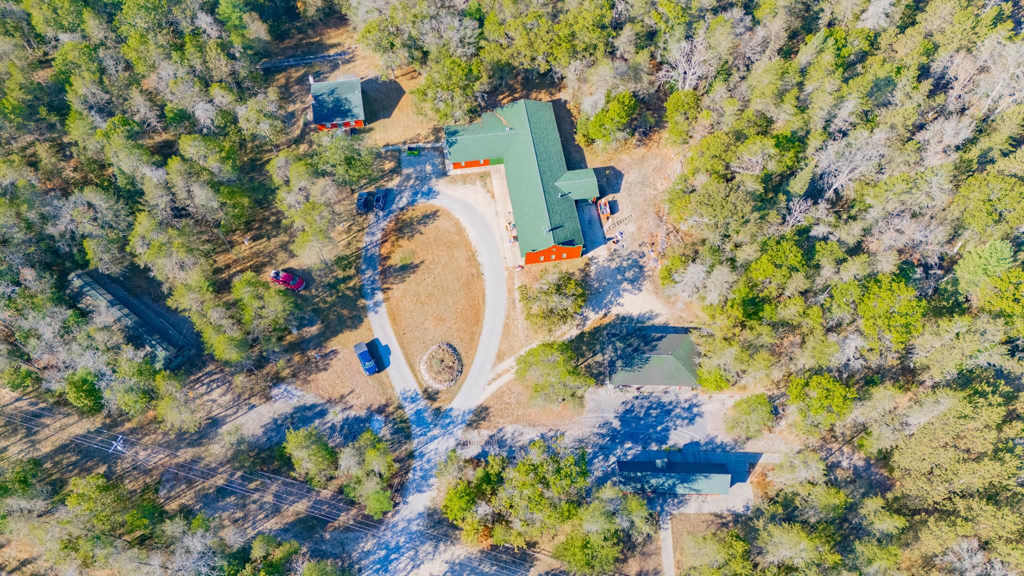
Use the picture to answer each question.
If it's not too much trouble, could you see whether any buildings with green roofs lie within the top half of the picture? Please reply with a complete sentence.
Yes, a building with a green roof can be seen within the top half of the picture.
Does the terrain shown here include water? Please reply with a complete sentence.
No, there is no water in the image.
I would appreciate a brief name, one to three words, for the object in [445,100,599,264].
building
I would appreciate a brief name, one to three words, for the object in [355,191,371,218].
car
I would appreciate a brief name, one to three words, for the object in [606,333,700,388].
building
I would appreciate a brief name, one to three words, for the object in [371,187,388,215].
car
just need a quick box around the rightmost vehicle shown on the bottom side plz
[352,340,379,379]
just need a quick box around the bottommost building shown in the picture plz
[616,460,731,496]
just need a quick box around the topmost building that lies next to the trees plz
[308,72,366,138]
